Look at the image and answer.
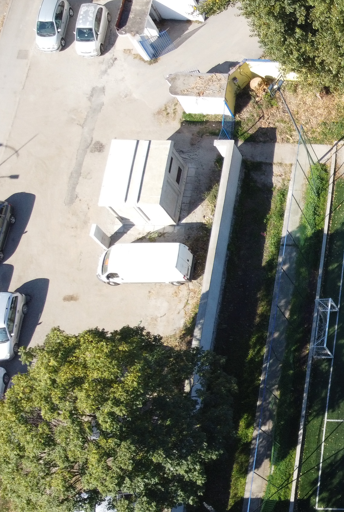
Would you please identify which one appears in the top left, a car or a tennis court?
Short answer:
car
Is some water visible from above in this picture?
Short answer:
No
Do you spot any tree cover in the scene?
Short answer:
Yes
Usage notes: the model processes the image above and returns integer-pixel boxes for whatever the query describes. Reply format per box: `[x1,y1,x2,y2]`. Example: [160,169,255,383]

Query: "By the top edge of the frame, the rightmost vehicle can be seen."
[70,6,110,58]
